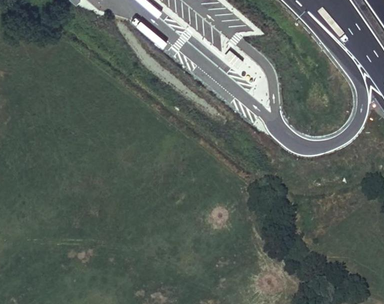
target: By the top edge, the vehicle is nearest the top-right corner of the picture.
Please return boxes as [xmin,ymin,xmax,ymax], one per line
[318,6,350,42]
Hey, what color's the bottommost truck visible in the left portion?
white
